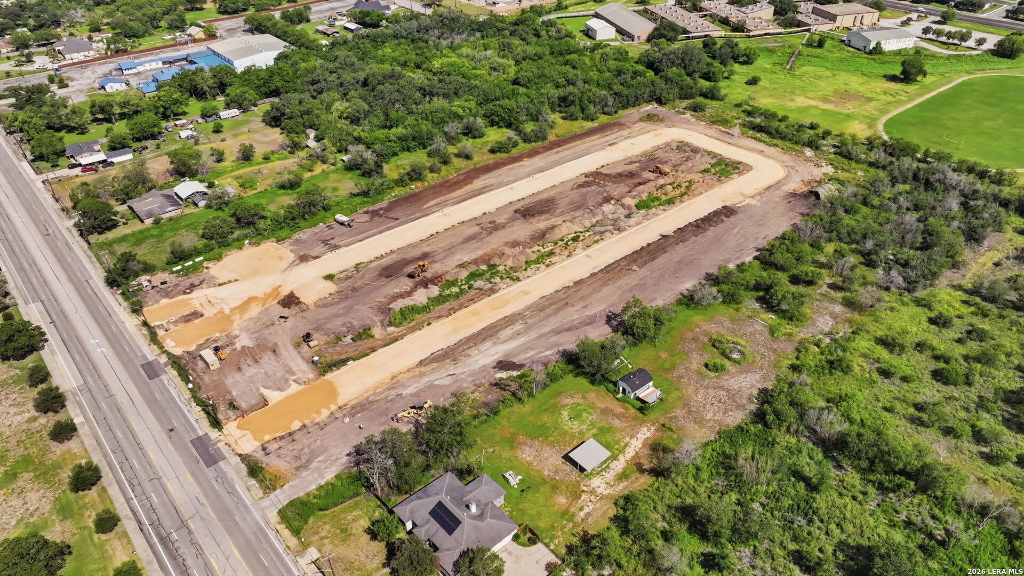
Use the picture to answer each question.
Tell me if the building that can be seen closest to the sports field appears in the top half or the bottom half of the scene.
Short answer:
top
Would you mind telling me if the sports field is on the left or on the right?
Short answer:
right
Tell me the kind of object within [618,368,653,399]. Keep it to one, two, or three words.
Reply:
shed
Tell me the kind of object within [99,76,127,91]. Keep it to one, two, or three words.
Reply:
house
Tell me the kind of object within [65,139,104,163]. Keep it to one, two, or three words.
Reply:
house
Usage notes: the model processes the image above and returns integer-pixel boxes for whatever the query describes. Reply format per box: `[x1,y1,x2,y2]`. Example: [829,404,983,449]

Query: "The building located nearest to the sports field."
[842,28,921,52]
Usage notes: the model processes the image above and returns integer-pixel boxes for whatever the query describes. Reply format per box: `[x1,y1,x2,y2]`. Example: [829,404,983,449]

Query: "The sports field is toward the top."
[887,77,1024,166]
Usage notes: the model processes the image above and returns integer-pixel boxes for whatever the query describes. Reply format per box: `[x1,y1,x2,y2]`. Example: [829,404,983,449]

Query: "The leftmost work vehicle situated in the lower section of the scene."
[210,343,228,361]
